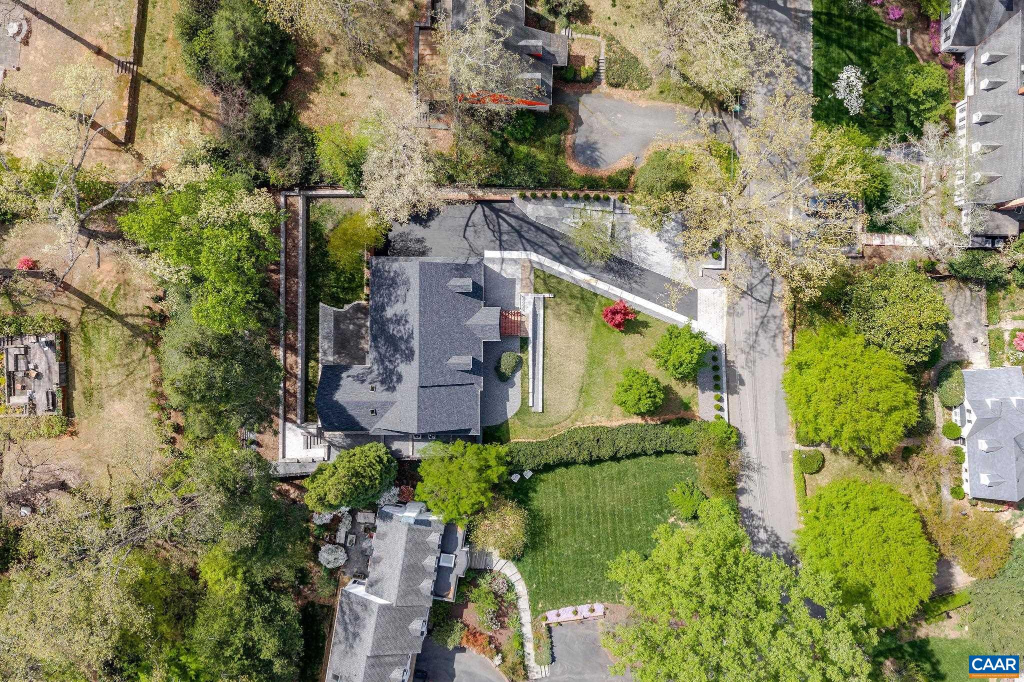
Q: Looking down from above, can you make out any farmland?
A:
No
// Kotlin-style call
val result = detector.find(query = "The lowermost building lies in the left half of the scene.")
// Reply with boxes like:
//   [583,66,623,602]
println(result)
[324,499,472,682]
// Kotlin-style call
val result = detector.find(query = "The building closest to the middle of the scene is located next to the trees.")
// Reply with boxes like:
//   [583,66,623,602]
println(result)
[315,257,500,437]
